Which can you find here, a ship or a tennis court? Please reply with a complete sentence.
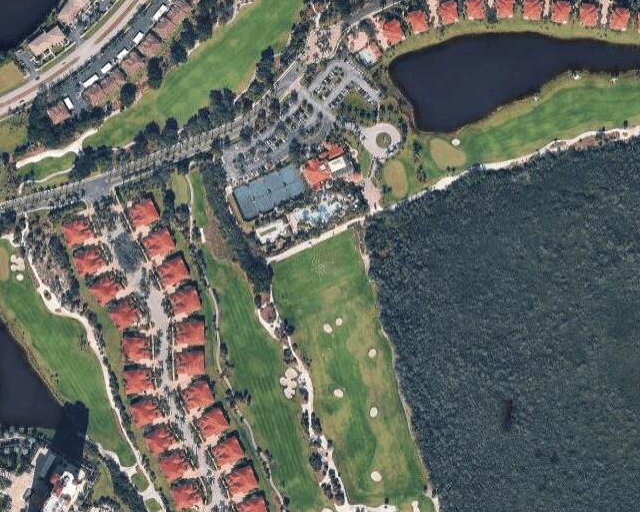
Visible in the photo is a tennis court.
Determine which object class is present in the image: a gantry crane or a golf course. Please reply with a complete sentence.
I can see a golf course in this picture.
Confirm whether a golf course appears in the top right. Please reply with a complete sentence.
Yes, a golf course can be seen in the top right.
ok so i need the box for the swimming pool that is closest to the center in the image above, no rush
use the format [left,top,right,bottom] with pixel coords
[293,192,359,227]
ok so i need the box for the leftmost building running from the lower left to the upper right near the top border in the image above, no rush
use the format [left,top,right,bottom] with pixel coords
[30,25,64,57]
